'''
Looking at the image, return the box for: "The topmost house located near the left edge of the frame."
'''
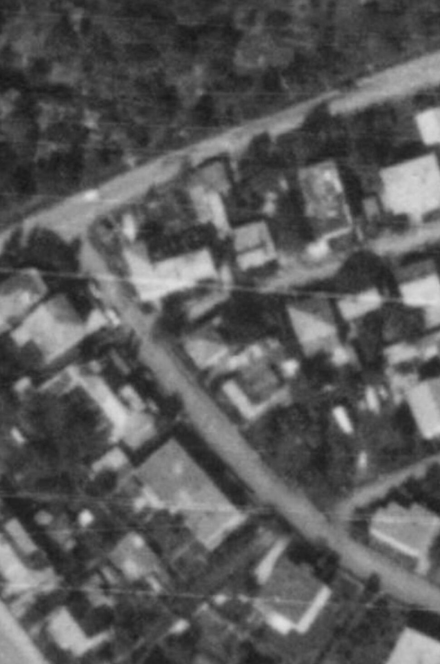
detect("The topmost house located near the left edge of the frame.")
[0,269,45,327]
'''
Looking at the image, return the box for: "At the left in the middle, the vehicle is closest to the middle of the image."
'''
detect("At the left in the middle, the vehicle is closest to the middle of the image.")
[107,309,121,327]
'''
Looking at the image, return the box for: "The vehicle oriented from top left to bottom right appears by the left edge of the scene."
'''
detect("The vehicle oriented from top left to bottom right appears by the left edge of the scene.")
[9,427,26,444]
